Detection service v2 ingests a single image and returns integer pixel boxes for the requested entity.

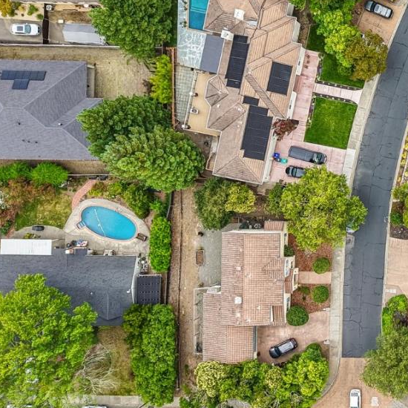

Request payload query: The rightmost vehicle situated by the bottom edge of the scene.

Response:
[345,386,363,408]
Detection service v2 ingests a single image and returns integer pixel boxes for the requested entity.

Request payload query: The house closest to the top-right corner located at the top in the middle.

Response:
[183,0,310,184]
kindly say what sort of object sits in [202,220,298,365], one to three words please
house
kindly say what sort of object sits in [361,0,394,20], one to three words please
car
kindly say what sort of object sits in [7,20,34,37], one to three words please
car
